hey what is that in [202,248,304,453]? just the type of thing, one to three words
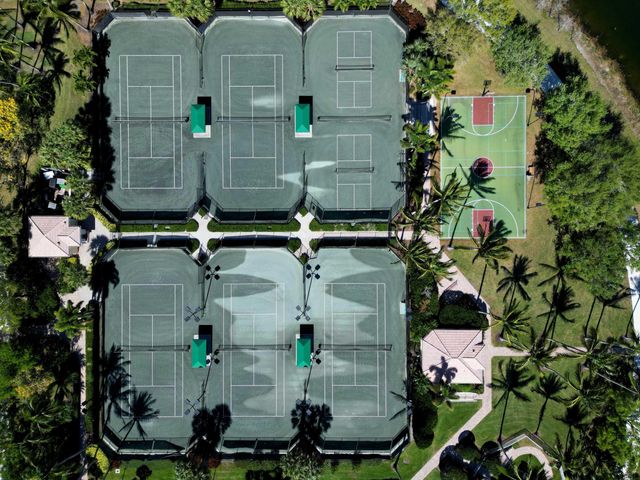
tennis court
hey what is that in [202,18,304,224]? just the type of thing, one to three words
tennis court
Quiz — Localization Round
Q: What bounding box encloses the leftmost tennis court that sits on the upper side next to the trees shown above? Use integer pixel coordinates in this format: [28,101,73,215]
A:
[101,17,202,224]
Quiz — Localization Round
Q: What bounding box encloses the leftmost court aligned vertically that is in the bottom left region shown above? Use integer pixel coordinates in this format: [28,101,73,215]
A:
[102,248,203,454]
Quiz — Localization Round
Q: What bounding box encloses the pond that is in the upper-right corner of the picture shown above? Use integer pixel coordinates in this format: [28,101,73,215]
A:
[566,0,640,96]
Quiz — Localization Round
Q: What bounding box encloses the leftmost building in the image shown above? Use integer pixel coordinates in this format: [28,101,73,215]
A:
[24,216,87,257]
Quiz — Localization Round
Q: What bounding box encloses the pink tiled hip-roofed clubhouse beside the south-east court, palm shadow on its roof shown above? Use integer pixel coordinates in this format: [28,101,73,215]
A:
[419,329,486,384]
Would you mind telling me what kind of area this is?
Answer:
sports ground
